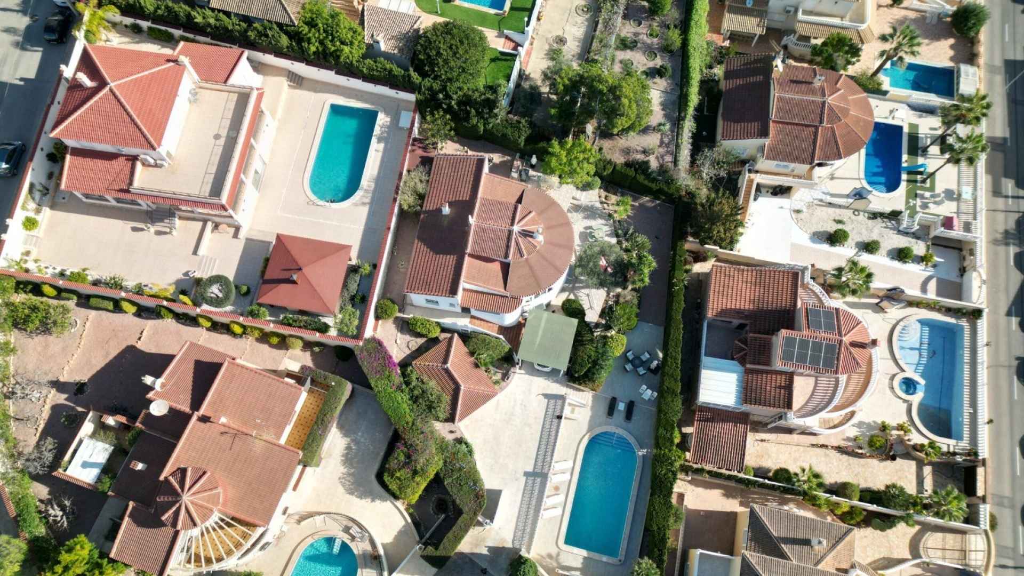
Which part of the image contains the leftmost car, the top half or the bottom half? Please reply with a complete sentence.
The top half of the photo is where the leftmost car is.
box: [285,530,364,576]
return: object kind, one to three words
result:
swimming pool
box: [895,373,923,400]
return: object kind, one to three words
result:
swimming pool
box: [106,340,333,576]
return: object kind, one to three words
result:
house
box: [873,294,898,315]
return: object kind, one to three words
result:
umbrella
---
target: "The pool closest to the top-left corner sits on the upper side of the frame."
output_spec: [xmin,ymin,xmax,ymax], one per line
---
[304,99,384,207]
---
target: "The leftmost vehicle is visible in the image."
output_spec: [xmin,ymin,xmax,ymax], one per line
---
[0,134,25,178]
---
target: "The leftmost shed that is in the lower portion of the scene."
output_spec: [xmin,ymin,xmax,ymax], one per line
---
[65,437,126,484]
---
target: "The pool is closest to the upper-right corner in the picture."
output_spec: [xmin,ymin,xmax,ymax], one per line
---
[879,60,958,100]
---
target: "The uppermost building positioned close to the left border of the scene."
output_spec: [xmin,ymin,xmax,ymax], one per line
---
[48,40,304,237]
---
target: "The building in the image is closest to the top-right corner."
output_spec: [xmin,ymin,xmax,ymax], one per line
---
[954,65,978,100]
